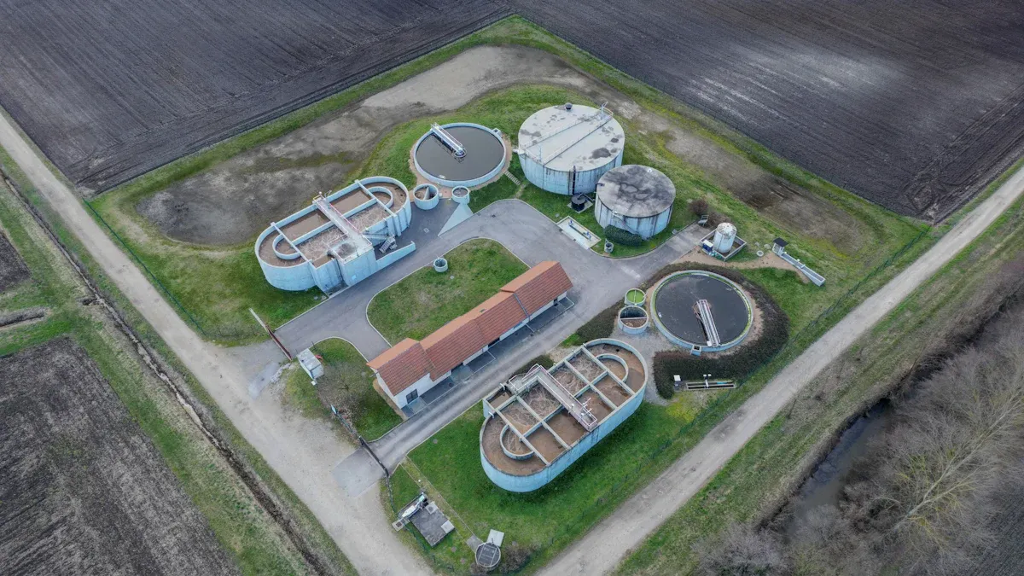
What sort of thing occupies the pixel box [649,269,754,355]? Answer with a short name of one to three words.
water tank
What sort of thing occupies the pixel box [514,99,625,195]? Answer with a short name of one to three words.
storage tank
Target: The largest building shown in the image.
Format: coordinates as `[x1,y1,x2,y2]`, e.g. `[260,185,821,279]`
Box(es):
[367,261,576,420]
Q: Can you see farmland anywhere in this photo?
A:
Yes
